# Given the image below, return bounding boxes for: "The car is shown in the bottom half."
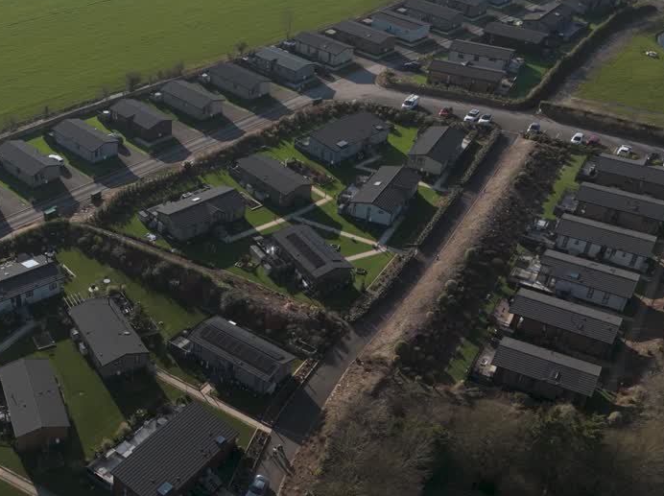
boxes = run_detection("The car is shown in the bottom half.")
[245,473,270,496]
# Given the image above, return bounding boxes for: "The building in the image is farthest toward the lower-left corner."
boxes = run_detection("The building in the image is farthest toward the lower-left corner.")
[0,358,71,449]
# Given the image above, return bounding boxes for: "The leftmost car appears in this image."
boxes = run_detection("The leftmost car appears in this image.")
[49,152,67,167]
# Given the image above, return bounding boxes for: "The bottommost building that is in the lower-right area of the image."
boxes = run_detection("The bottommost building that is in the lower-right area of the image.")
[458,337,600,407]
